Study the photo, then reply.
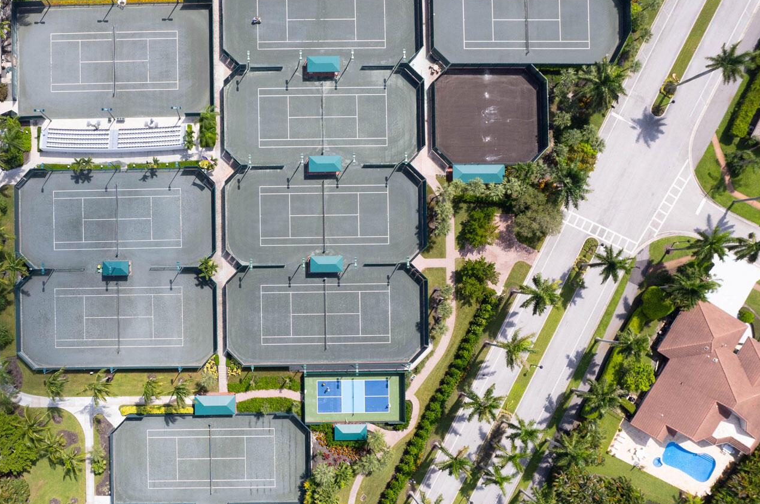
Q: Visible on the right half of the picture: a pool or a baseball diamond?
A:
pool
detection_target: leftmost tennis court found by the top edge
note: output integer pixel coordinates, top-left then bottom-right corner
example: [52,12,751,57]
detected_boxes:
[18,3,214,120]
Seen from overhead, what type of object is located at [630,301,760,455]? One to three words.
house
